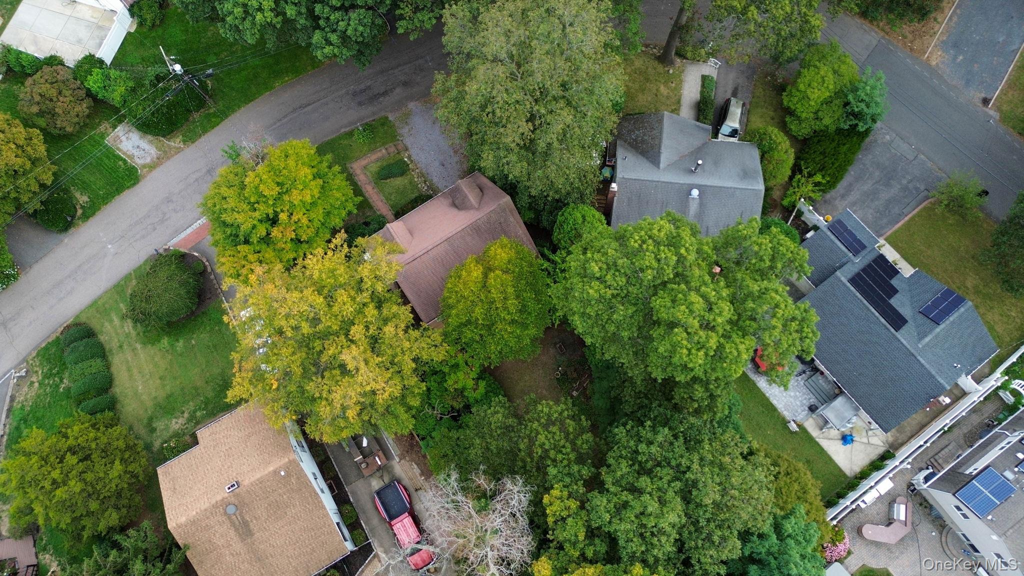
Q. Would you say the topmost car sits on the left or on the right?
right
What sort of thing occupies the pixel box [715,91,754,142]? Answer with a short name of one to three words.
car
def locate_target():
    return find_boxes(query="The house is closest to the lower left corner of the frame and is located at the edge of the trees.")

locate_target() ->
[153,394,353,576]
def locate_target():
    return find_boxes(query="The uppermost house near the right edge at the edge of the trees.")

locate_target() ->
[779,208,1001,434]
